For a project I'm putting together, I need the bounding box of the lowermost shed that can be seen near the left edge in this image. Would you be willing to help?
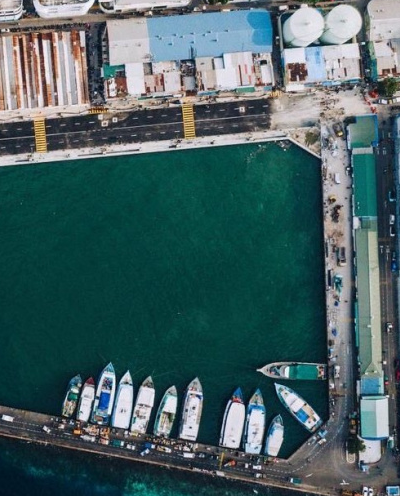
[0,30,90,116]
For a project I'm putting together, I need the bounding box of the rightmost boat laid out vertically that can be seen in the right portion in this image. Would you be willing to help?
[265,414,284,457]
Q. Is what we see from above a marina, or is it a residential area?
marina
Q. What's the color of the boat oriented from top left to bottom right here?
white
